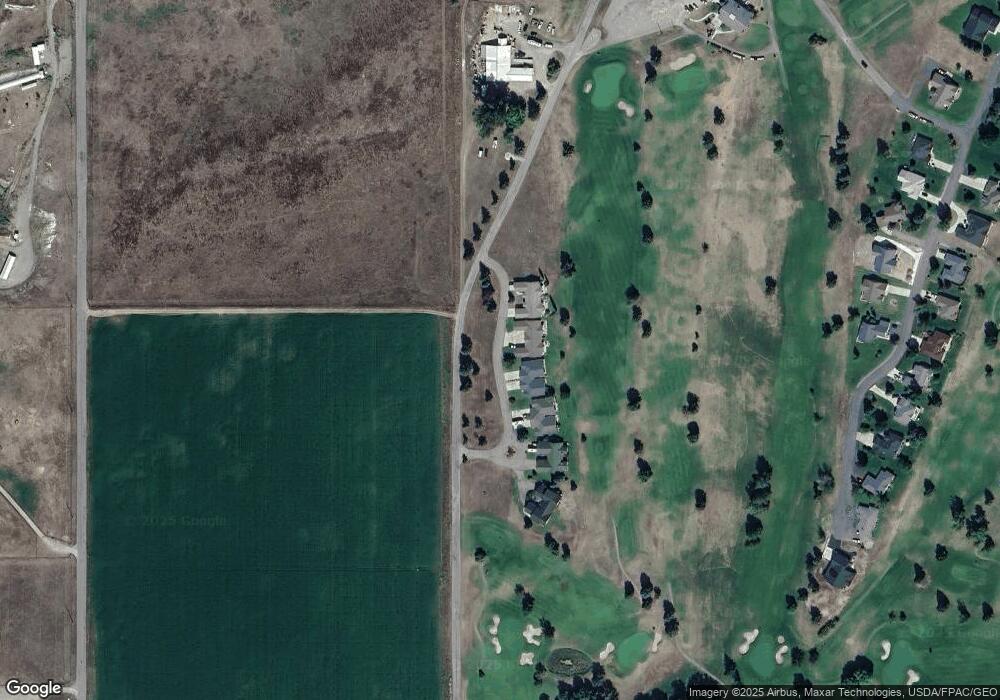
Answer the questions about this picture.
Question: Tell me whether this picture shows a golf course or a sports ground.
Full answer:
This looks like a golf course.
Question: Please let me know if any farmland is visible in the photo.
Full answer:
Yes, some farmland is visible.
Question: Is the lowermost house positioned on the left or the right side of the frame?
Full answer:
The lowermost house appears in the right half of the scene.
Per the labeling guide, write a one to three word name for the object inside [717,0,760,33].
building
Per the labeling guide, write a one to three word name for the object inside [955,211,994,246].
house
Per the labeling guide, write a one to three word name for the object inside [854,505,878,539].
house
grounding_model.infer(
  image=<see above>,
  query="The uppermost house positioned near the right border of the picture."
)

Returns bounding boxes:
[962,6,1000,41]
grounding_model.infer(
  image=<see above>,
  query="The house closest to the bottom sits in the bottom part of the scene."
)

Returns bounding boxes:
[821,545,858,590]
